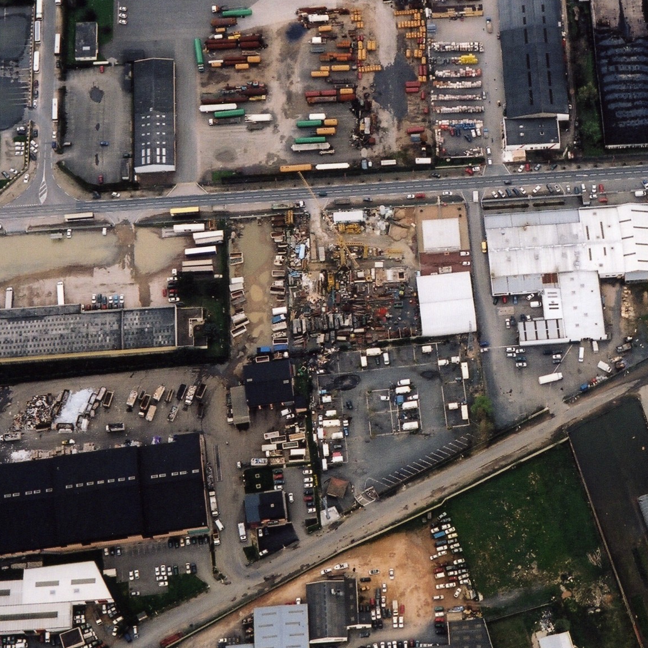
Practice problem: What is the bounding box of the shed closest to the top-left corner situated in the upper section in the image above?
[75,21,99,61]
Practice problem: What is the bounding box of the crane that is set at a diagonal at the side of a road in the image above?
[298,171,363,272]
